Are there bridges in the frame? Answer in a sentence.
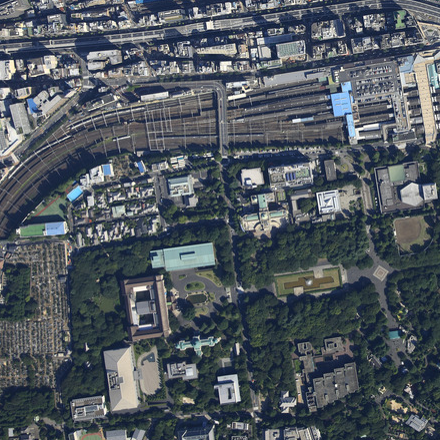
Yes, there's a bridge here.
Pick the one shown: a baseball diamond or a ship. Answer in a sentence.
Of the two, only a baseball diamond appears.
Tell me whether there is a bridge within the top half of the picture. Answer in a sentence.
Yes, a bridge is visible within the top half of the picture.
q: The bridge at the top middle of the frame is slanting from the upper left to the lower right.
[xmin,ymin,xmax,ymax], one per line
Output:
[130,78,229,154]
